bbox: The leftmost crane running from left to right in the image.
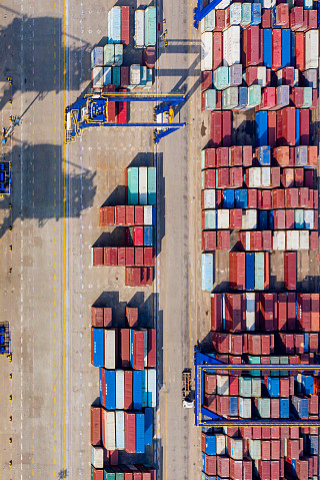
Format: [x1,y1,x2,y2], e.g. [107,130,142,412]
[65,91,188,145]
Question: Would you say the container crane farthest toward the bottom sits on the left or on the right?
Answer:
right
